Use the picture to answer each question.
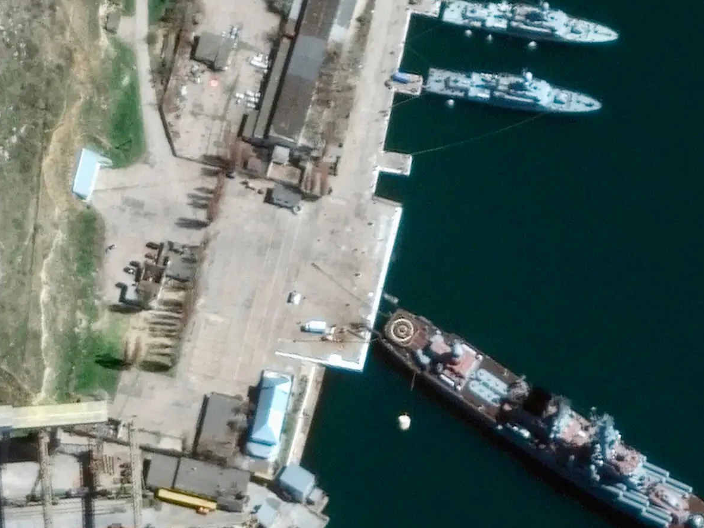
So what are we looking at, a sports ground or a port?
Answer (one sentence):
This image shows a port.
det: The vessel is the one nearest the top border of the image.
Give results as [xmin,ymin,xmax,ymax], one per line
[442,0,619,43]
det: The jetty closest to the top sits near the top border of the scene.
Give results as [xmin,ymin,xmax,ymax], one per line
[411,0,441,19]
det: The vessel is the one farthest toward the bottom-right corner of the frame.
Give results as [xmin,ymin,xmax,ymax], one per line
[382,312,704,528]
